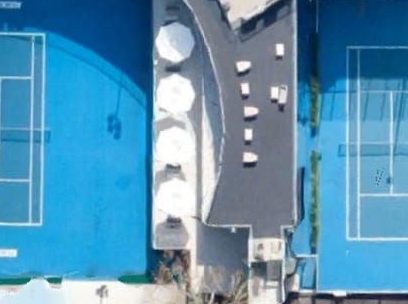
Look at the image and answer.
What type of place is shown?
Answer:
sports ground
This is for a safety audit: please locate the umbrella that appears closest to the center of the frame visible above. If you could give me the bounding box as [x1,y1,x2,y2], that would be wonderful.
[154,126,193,165]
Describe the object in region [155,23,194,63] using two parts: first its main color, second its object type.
white umbrella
